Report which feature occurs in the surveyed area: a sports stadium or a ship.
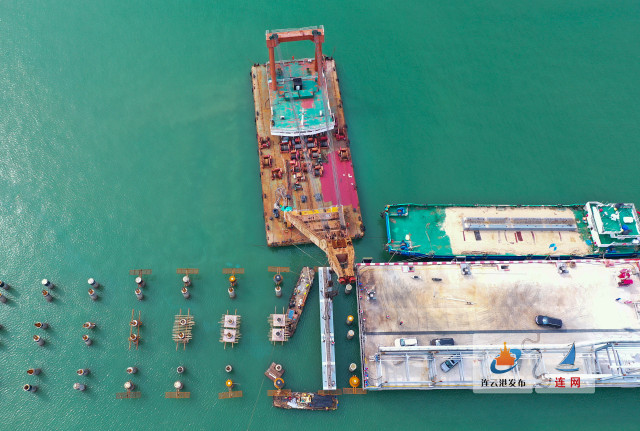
ship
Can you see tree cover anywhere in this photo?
No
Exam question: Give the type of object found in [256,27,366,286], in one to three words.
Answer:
ship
